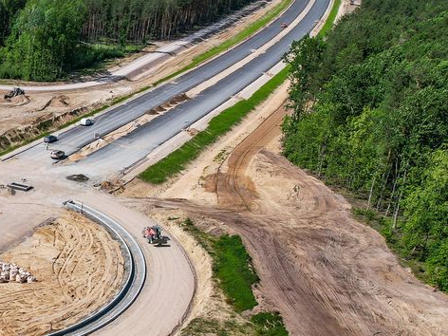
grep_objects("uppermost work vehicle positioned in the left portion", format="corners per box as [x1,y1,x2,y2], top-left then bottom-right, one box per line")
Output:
[0,82,26,100]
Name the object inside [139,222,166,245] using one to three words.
work vehicle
